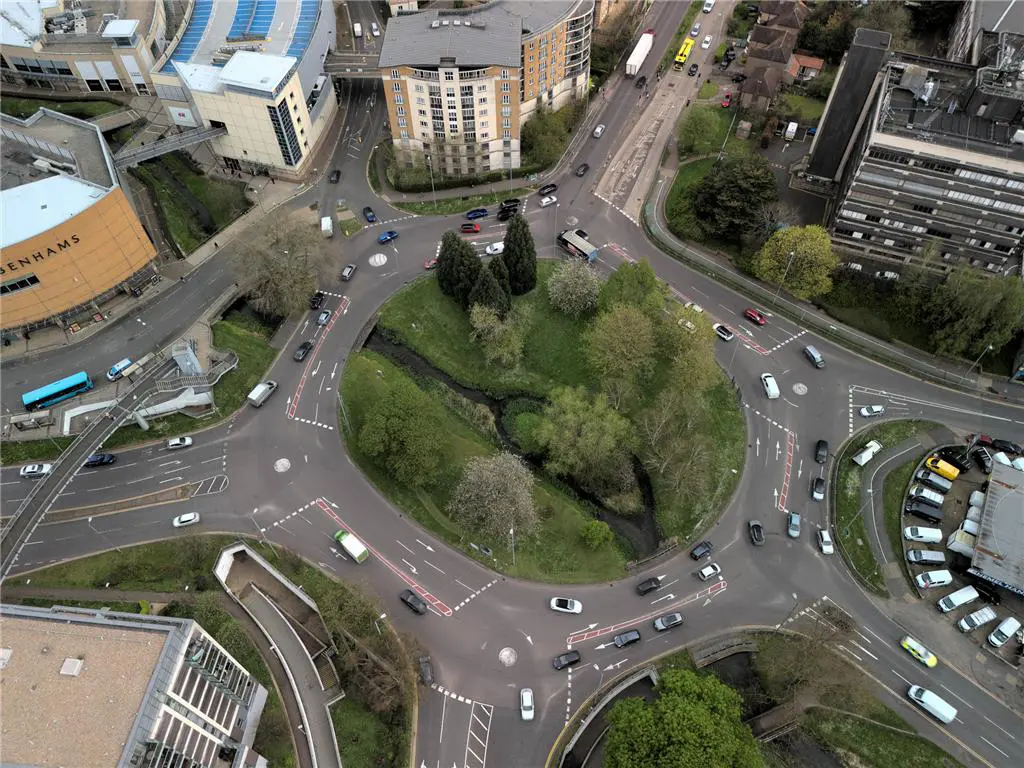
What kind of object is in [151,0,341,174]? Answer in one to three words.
building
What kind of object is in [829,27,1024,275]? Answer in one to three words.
building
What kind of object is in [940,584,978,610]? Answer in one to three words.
vehicle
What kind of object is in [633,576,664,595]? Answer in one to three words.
car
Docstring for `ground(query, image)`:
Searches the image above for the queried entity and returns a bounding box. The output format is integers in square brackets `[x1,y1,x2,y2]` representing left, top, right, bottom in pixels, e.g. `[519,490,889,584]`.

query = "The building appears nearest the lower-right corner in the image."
[956,466,1024,609]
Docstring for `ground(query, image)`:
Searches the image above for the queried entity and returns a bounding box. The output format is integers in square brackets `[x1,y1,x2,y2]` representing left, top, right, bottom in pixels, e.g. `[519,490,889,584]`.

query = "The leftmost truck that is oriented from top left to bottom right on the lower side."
[328,525,376,568]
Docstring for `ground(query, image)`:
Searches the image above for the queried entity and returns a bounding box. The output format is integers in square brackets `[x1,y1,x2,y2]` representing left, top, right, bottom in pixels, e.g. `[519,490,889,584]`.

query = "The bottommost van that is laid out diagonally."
[910,684,959,724]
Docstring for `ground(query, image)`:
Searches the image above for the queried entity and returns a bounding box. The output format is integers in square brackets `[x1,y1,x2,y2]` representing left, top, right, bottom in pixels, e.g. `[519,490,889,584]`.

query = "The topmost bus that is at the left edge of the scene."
[19,369,97,412]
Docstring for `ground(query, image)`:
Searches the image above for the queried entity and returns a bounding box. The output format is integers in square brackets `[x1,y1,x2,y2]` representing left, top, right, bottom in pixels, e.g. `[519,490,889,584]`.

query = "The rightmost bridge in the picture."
[325,51,383,79]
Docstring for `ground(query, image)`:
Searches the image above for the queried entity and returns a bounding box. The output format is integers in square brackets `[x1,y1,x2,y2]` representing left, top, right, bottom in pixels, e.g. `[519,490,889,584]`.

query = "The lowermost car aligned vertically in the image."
[519,687,535,722]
